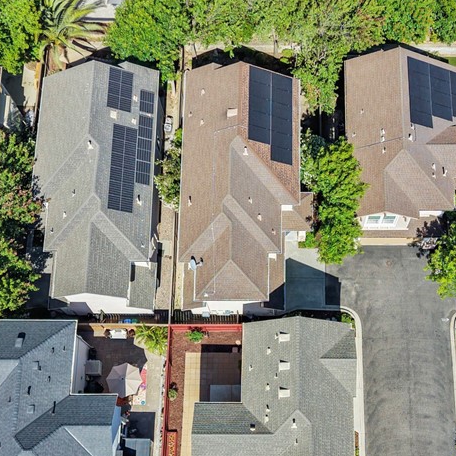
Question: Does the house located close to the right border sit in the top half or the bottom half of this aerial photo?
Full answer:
The top half of the photo is where the house located close to the right border is.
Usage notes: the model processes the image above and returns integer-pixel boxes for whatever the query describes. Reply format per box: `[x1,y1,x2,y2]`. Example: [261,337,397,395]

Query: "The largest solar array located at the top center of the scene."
[249,65,293,164]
